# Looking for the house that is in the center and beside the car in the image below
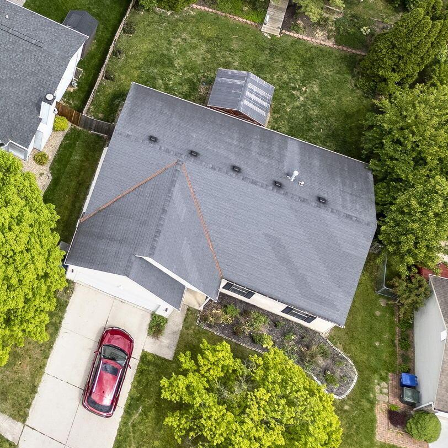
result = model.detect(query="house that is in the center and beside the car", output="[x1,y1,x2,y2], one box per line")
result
[64,81,380,332]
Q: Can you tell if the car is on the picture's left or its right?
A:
left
